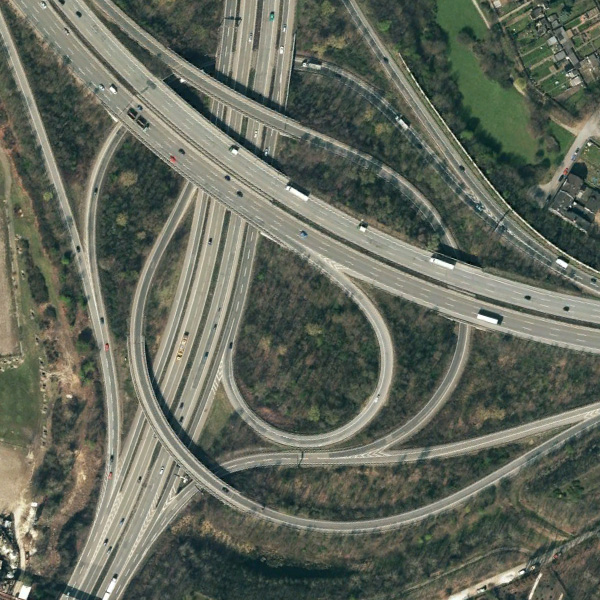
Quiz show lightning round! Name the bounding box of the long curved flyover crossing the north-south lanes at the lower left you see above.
[128,338,248,510]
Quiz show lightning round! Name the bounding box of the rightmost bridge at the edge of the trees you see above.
[420,253,493,323]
